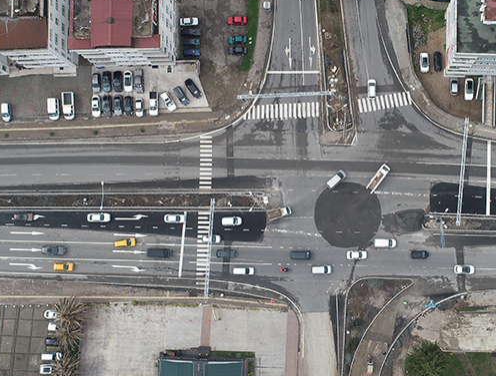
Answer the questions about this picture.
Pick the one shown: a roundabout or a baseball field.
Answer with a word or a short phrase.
roundabout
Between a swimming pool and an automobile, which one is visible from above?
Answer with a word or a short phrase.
automobile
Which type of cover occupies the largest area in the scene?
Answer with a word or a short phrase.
paved ground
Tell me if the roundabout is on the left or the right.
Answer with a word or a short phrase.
right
